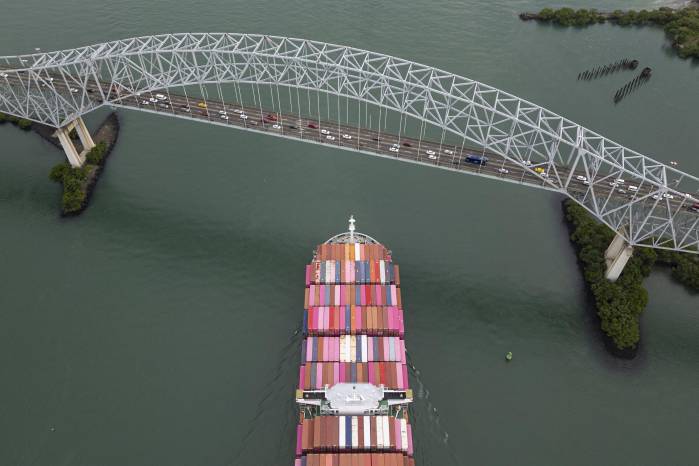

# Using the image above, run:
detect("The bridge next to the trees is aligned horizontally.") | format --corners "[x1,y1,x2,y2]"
[0,32,699,281]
